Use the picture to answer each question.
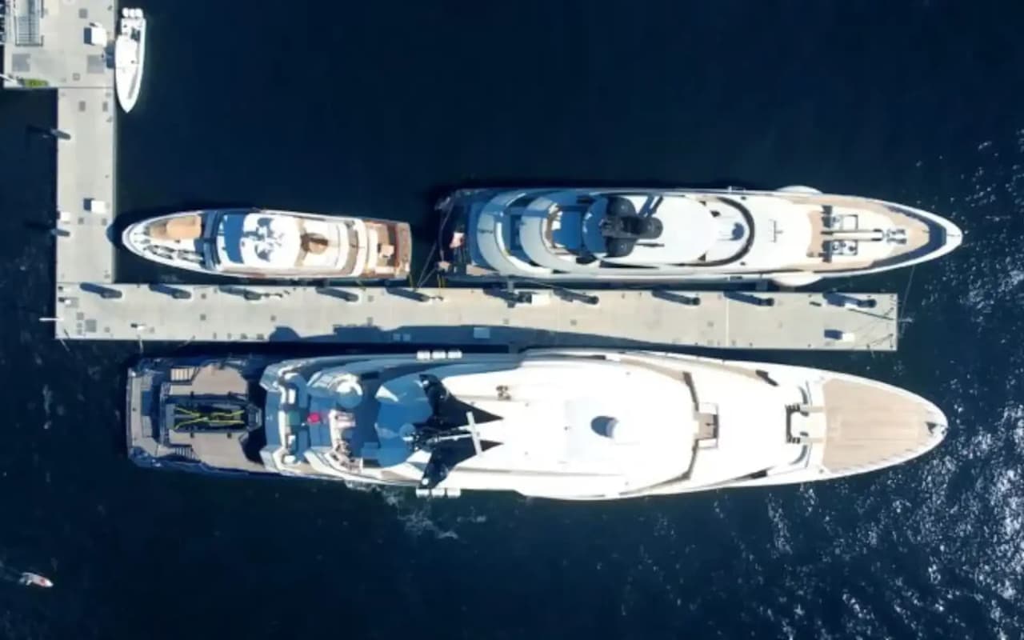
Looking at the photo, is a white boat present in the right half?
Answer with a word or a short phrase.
Yes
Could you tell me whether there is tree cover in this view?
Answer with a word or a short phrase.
No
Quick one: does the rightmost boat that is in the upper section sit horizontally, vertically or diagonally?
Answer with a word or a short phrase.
horizontally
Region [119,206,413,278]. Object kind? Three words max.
boat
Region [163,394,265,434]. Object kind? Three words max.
boat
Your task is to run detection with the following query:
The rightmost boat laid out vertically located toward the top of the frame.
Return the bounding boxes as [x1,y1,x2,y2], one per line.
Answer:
[113,8,146,111]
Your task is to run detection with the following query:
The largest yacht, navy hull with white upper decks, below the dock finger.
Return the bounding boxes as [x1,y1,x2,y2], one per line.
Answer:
[127,351,951,499]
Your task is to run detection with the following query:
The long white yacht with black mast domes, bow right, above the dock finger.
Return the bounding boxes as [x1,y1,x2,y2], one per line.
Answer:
[439,182,967,286]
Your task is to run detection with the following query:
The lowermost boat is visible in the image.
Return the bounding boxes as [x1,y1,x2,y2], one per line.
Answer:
[16,571,54,588]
